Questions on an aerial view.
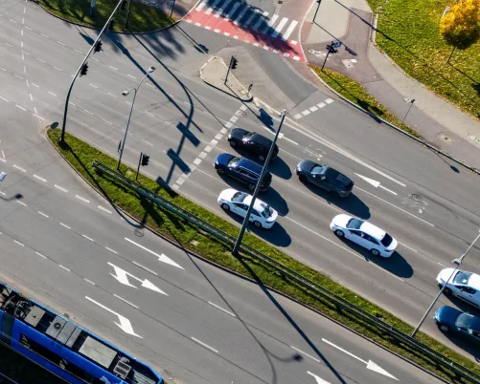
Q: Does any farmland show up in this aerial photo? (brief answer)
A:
No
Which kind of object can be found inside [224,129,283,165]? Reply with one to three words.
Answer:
car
